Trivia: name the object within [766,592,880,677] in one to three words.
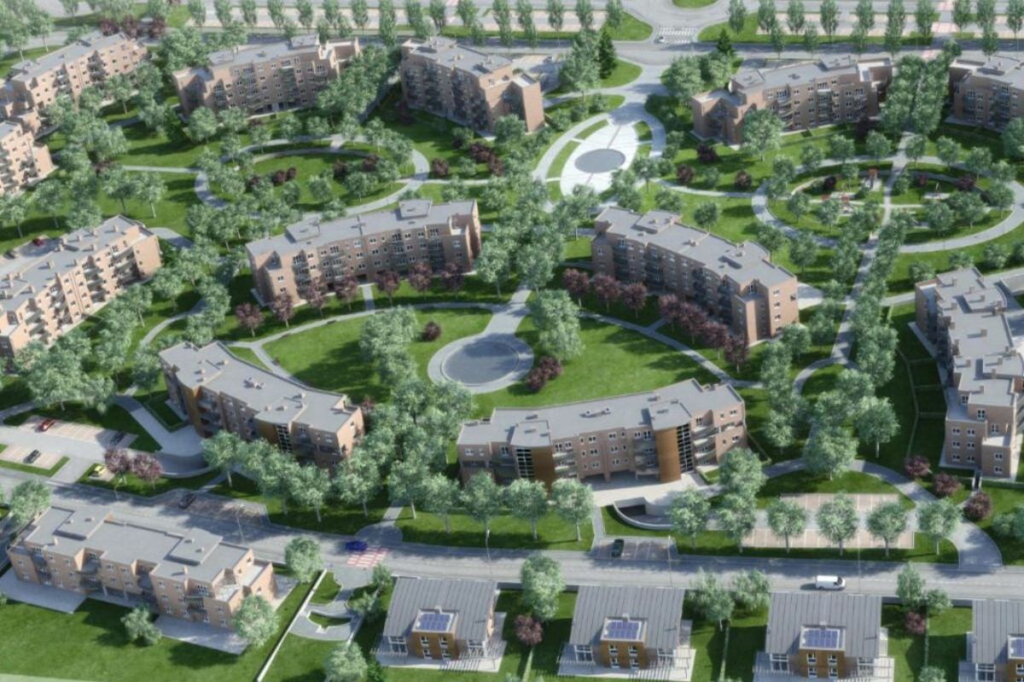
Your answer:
house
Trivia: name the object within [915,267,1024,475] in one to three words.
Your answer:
building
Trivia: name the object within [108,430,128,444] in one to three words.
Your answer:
car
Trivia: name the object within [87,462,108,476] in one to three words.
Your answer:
car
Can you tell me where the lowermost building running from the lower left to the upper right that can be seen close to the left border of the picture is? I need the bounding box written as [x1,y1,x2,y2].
[0,214,164,372]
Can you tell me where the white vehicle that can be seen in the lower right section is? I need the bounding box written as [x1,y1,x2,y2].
[816,573,846,592]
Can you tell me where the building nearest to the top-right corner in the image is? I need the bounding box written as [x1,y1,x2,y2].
[949,57,1024,128]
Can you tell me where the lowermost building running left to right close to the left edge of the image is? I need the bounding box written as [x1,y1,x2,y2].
[7,507,279,630]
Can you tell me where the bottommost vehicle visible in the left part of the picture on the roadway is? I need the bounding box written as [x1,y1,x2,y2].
[344,541,368,553]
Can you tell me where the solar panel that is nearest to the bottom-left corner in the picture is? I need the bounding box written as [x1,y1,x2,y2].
[416,605,454,629]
